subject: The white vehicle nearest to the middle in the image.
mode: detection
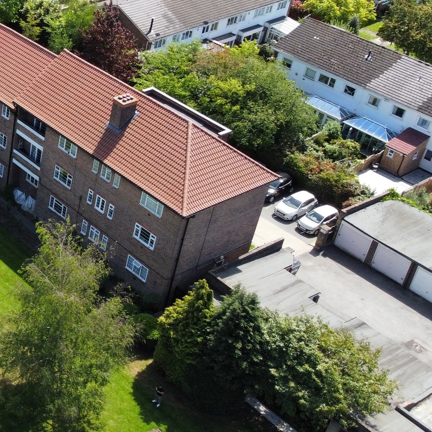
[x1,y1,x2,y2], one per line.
[277,186,316,223]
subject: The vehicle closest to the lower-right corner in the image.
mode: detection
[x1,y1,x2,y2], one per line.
[301,202,339,236]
